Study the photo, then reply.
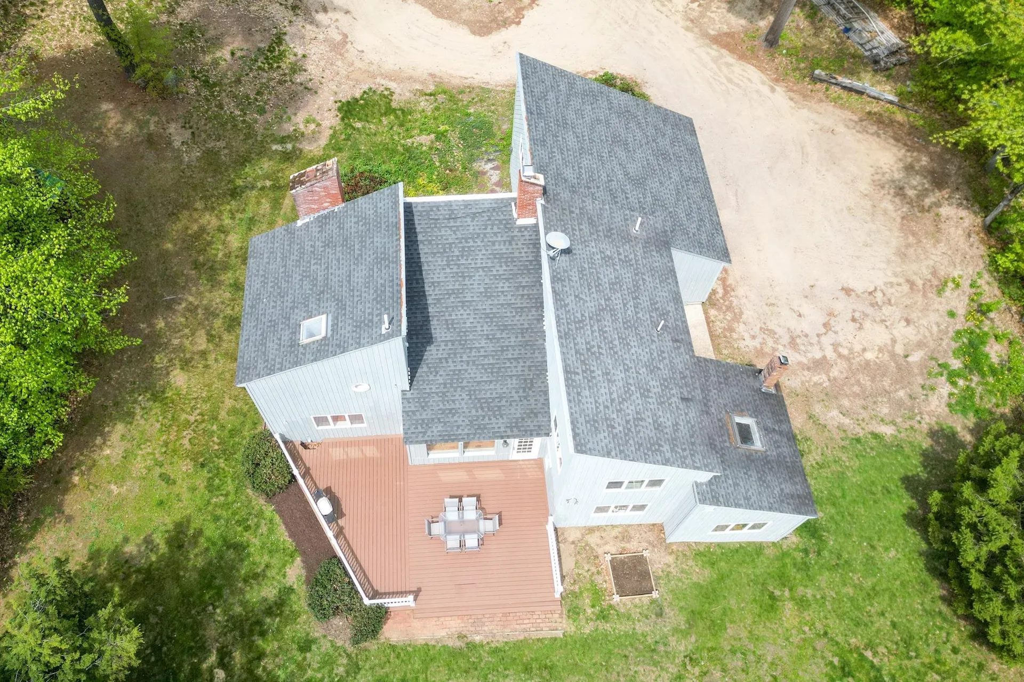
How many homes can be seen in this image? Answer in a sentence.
My tally gives 1 home in this photo.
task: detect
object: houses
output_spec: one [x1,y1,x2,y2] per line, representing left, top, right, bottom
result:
[234,51,818,547]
